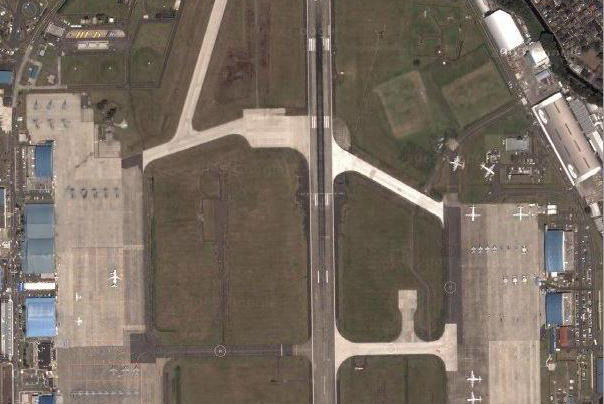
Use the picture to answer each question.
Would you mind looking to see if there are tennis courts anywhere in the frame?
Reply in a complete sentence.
No, no tennis court is visible in the scene.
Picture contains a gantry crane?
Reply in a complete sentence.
No, the photo shows no gantry crane.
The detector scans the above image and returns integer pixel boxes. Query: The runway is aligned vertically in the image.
[307,0,336,404]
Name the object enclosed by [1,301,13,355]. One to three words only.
building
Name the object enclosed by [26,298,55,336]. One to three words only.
hangar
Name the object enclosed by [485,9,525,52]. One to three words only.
hangar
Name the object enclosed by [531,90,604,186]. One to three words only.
building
